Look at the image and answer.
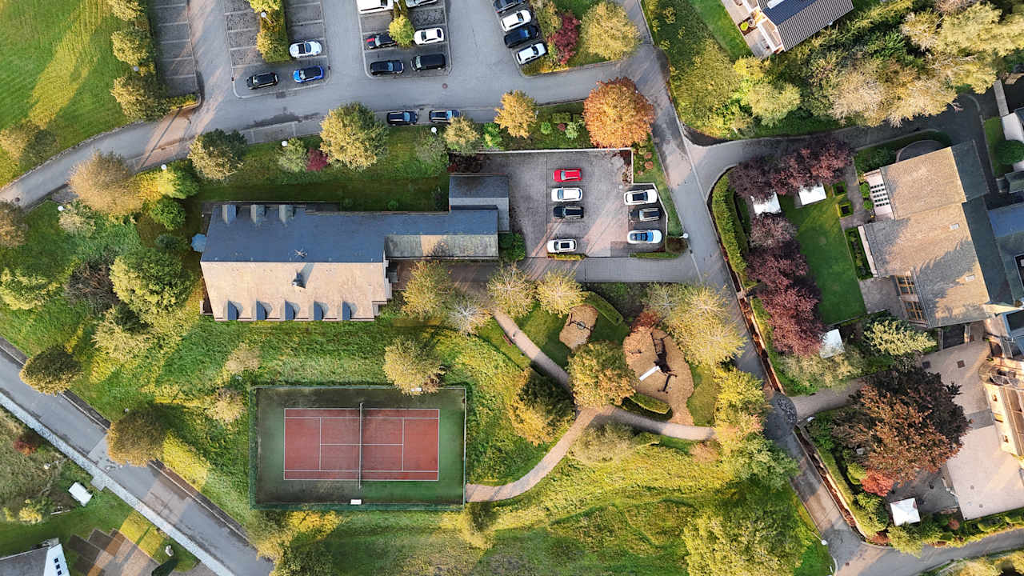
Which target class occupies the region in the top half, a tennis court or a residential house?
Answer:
residential house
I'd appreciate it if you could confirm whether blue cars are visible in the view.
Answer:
Yes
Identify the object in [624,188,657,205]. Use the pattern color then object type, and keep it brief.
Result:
white car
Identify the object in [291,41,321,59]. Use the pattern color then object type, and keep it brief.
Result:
white car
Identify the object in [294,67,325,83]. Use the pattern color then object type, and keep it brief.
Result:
blue car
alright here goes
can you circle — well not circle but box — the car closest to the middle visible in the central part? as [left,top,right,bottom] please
[546,239,576,254]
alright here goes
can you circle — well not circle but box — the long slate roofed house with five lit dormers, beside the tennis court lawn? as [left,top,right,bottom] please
[200,204,497,322]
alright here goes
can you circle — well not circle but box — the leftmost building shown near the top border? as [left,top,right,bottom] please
[744,0,867,59]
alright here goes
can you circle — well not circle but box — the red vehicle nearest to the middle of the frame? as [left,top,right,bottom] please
[552,167,582,182]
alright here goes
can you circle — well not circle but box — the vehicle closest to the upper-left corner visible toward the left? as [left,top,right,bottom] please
[247,73,279,90]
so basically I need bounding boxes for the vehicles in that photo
[353,0,394,14]
[628,207,661,222]
[415,29,445,45]
[546,239,576,254]
[411,53,445,71]
[405,0,437,10]
[552,167,582,182]
[551,187,582,202]
[492,0,523,15]
[429,108,460,124]
[294,67,325,83]
[247,73,279,90]
[371,59,404,76]
[516,43,547,64]
[505,25,538,47]
[388,109,418,125]
[624,188,657,205]
[367,34,397,50]
[627,229,661,244]
[553,204,583,219]
[500,10,531,32]
[291,41,321,59]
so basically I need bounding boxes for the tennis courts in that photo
[257,388,465,504]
